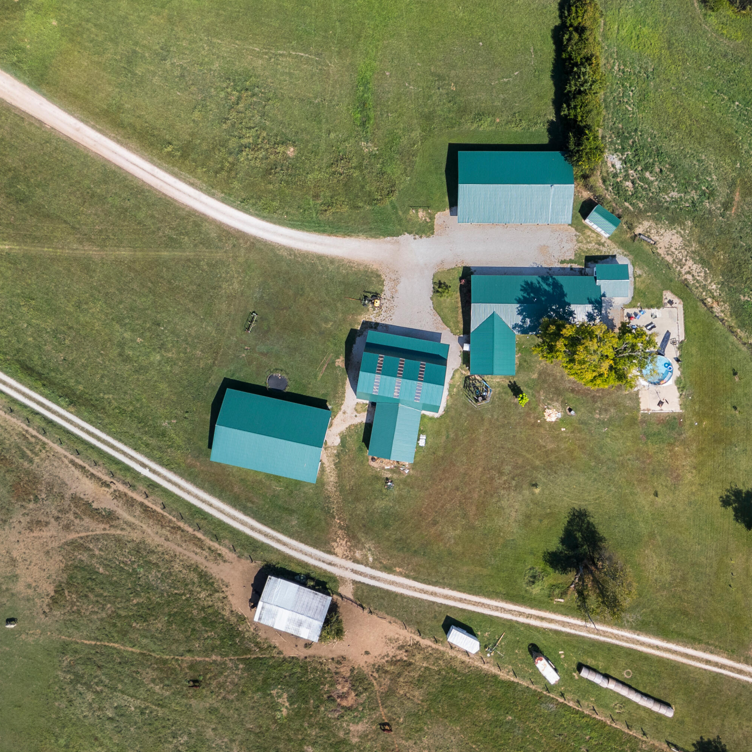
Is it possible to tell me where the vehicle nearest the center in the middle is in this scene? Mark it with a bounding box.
[345,296,383,308]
